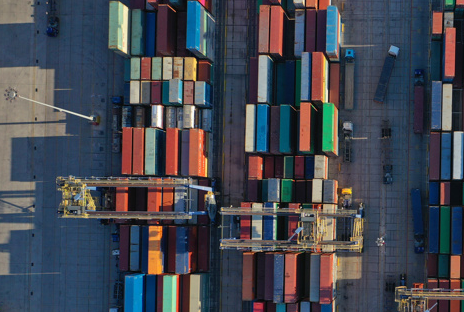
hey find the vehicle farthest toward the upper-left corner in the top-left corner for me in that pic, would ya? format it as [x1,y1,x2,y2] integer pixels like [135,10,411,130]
[45,0,59,38]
